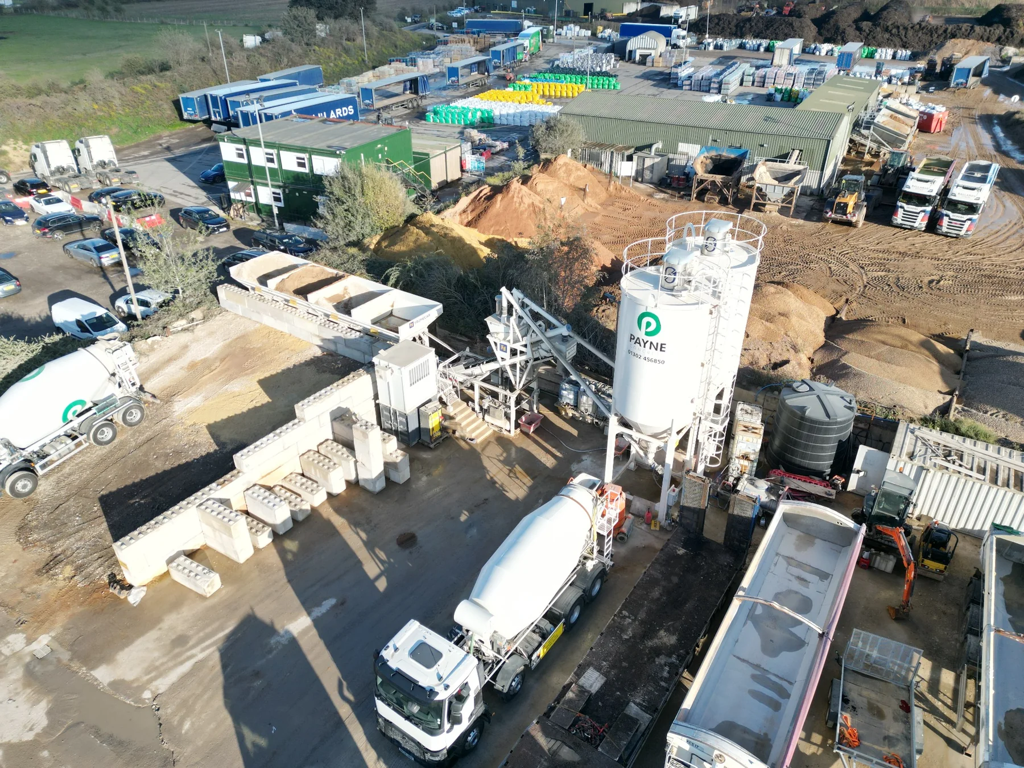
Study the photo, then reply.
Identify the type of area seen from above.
industrial area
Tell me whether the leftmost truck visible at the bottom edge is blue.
No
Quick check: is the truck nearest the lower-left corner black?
No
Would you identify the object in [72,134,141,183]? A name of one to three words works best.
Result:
truck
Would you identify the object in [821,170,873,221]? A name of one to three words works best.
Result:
work vehicle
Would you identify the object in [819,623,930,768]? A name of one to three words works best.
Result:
trailer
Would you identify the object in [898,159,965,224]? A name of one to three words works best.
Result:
truck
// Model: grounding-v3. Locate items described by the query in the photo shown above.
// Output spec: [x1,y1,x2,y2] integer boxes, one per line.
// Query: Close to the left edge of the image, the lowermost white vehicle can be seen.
[0,335,154,500]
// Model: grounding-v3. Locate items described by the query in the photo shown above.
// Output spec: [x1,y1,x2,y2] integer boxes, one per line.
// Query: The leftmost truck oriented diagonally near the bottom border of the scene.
[354,465,621,768]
